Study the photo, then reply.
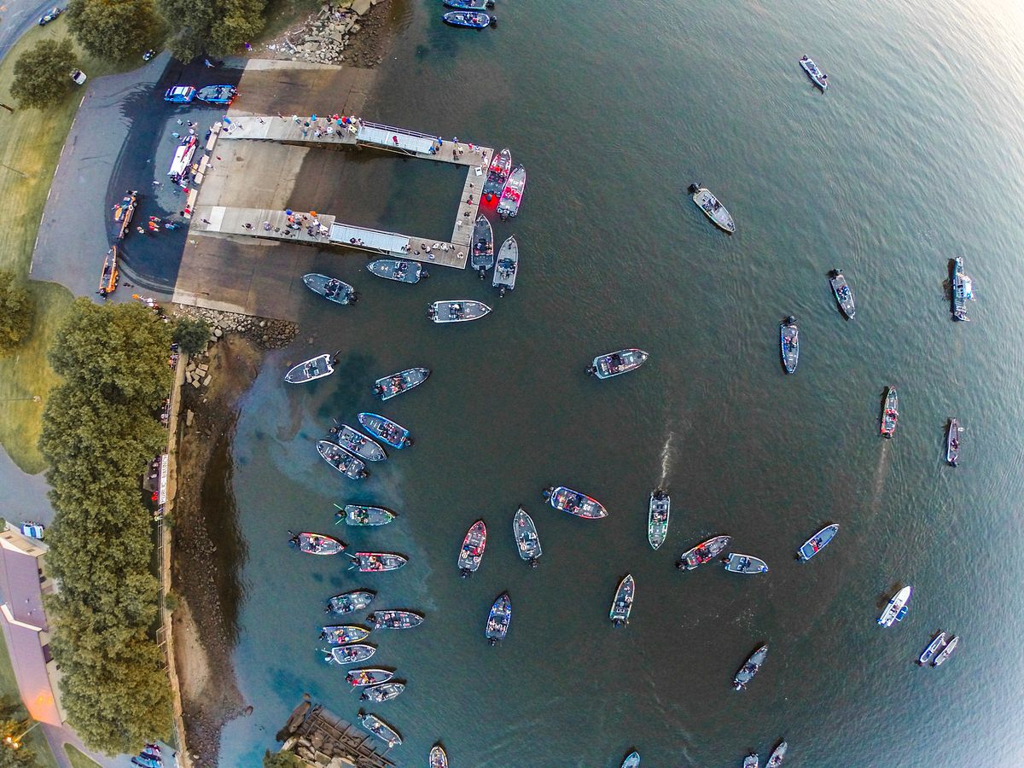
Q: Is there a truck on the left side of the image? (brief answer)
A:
Yes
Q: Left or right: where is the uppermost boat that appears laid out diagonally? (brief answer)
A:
right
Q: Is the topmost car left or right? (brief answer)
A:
left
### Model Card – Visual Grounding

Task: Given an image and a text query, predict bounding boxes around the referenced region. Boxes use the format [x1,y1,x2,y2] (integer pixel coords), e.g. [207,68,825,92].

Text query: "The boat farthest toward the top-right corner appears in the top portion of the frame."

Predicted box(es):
[799,50,828,90]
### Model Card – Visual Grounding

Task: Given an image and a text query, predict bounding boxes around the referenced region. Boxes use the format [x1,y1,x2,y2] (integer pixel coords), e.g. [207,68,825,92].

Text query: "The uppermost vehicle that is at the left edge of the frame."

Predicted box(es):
[37,2,65,28]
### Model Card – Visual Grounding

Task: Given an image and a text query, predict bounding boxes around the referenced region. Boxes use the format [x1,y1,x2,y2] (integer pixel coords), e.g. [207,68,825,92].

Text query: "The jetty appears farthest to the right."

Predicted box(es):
[406,139,494,270]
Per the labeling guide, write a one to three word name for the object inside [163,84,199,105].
car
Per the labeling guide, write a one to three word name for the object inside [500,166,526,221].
boat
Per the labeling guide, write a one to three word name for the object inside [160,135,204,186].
truck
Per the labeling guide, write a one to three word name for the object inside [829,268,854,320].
boat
